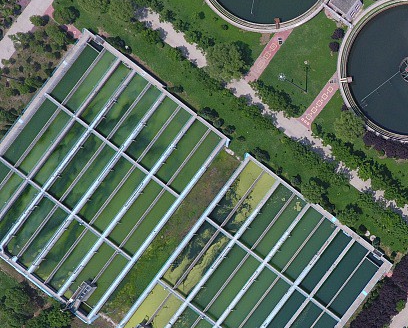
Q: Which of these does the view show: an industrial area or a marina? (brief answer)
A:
industrial area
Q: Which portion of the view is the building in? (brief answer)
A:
top right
